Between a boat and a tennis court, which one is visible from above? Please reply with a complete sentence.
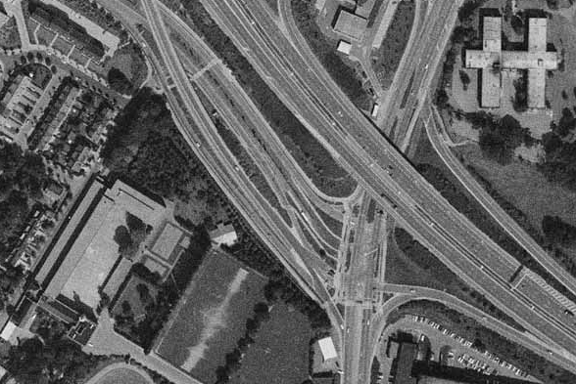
The image shows a tennis court.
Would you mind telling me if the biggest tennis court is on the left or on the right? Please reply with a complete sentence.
The biggest tennis court is on the left side of the image.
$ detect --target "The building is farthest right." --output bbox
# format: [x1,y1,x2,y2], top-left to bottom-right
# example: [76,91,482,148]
[466,18,556,107]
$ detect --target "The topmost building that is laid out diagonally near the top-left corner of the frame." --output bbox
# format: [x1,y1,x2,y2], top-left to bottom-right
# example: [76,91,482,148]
[32,5,101,57]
